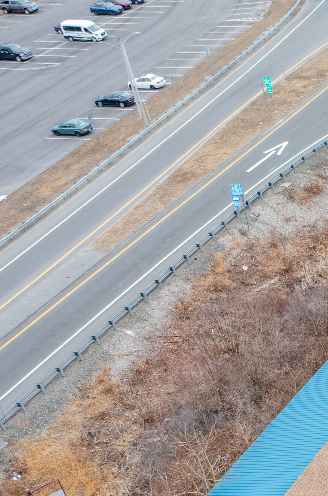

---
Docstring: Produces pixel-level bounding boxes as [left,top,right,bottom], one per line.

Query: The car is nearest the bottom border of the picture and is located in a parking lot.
[50,119,91,136]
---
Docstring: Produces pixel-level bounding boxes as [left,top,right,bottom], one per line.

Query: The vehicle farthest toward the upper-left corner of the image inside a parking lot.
[0,0,38,13]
